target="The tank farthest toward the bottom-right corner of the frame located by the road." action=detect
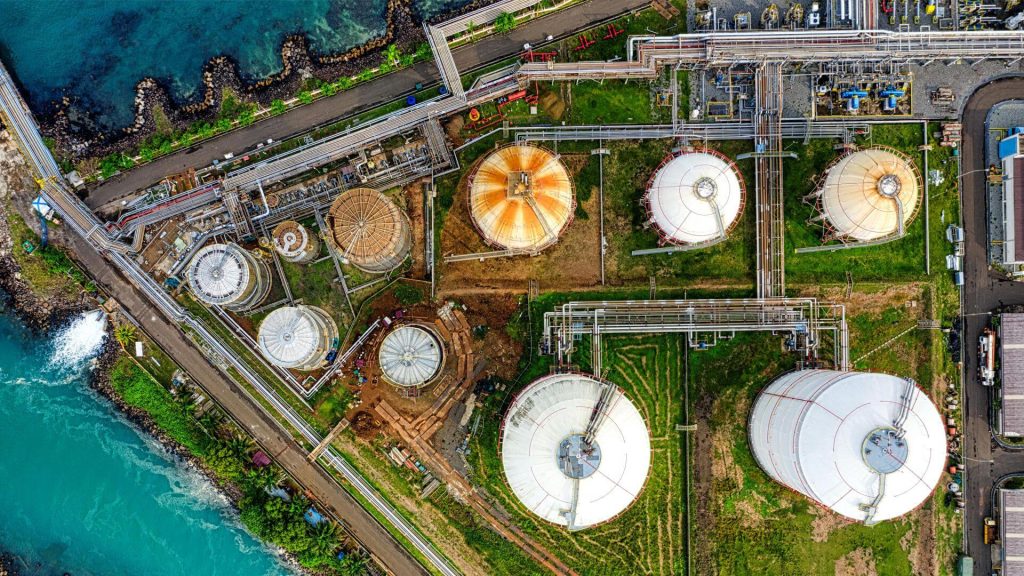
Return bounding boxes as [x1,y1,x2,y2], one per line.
[746,366,950,527]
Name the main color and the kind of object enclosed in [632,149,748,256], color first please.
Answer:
white storage tank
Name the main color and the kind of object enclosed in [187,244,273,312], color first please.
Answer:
white storage tank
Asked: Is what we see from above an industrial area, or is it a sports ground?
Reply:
industrial area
